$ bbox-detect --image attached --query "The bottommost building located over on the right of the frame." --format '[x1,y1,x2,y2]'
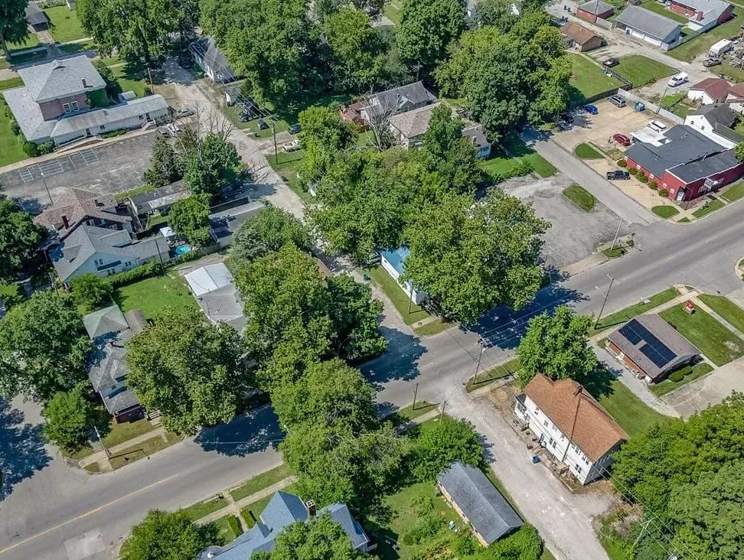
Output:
[438,468,527,550]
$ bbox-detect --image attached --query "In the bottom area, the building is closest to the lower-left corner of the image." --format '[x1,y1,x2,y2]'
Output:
[82,307,151,429]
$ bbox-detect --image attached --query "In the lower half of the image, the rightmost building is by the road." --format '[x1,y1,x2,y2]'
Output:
[606,317,702,388]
